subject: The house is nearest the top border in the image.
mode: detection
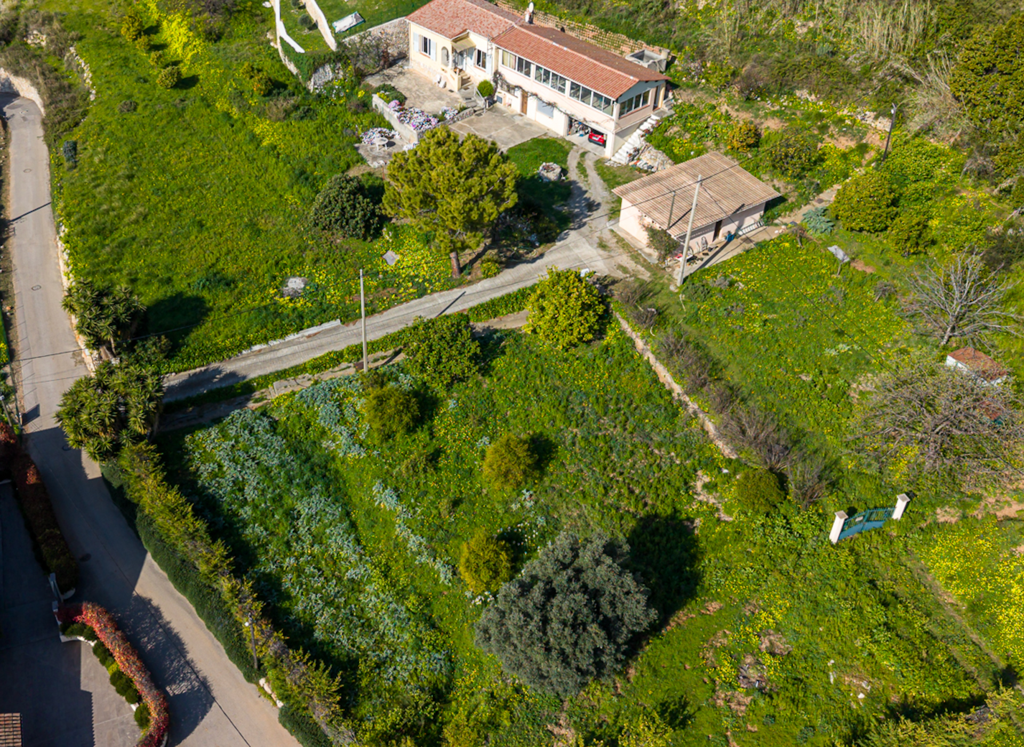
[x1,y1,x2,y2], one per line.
[403,0,690,163]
